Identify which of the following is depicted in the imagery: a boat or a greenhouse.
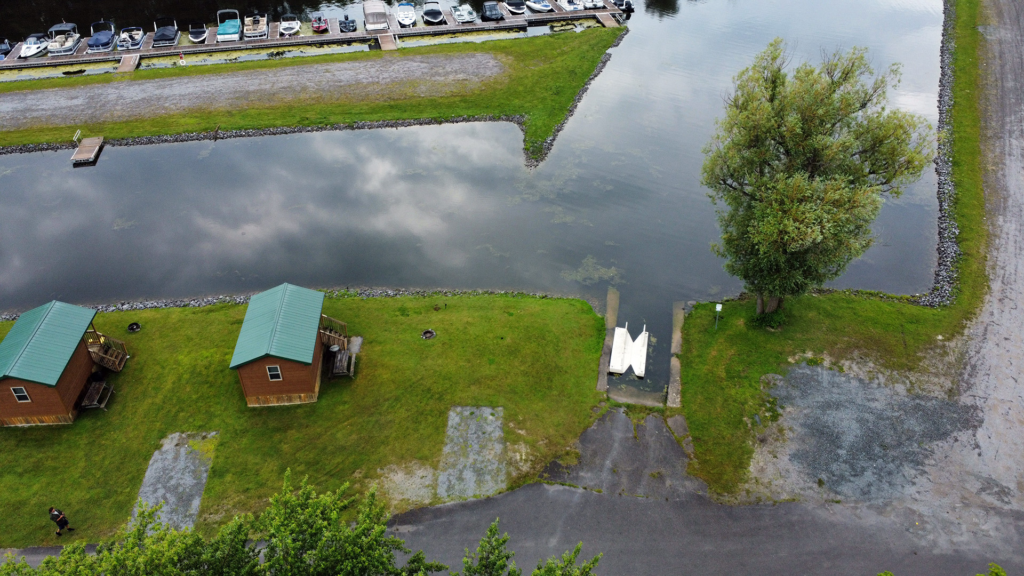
boat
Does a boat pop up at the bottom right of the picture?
No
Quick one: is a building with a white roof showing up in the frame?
No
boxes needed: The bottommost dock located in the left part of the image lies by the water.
[71,128,102,164]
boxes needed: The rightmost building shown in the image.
[230,282,351,407]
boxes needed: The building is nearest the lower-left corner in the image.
[0,300,131,429]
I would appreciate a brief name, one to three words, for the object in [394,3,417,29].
boat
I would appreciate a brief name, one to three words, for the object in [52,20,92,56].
boat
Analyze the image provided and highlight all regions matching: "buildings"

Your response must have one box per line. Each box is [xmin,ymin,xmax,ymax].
[0,300,131,429]
[230,282,351,407]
